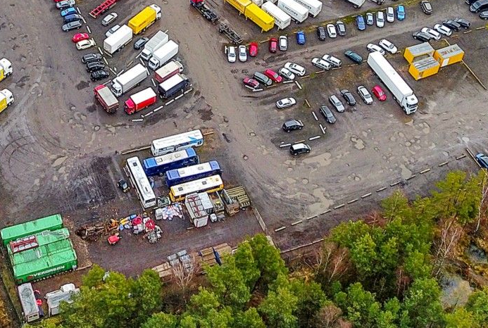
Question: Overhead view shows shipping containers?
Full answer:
Yes, a shipping container can be made out from above.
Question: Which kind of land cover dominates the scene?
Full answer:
Most of the picture is covered by paved ground.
